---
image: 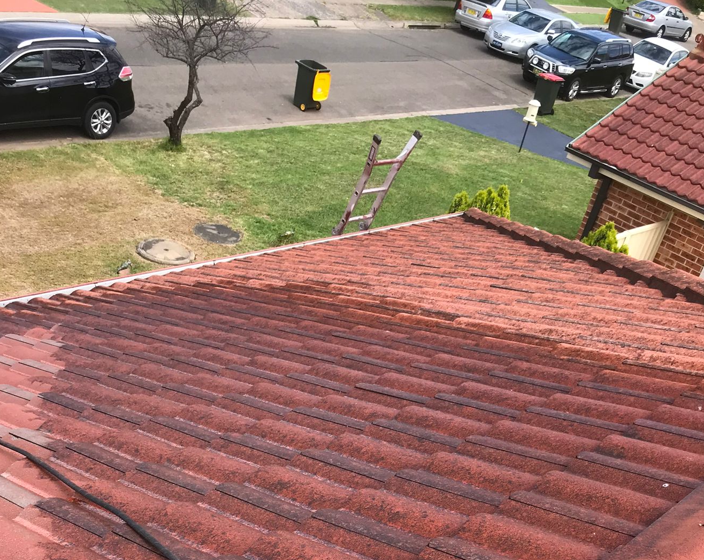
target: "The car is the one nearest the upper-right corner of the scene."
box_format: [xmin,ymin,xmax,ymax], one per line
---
[629,0,692,40]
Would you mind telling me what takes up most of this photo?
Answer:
buildings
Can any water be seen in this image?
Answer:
No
